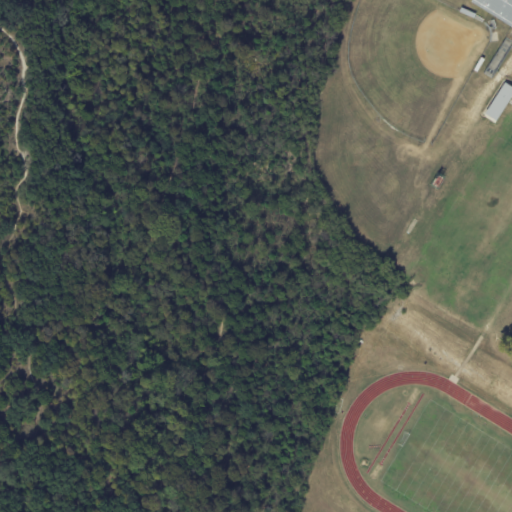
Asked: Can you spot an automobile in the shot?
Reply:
No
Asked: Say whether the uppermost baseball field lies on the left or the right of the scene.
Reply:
right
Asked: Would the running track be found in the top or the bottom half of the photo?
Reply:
bottom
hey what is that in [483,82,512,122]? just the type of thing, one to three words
shed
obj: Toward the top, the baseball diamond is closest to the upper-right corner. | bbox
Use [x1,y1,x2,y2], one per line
[348,0,491,152]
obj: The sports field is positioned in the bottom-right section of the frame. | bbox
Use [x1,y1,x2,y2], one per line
[382,400,512,512]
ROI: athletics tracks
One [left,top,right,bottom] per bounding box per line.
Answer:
[340,371,512,512]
